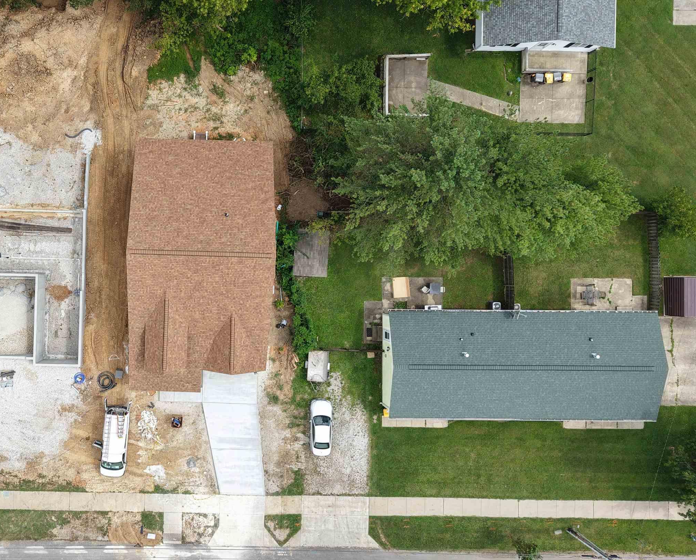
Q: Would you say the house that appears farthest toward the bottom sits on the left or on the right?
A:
right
